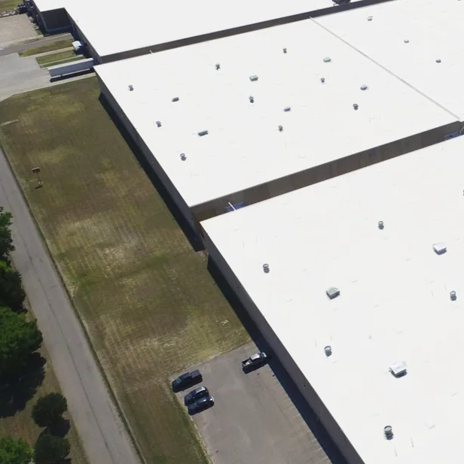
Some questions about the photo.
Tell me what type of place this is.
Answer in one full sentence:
This image shows an industrial area.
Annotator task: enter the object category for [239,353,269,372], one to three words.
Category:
vehicle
